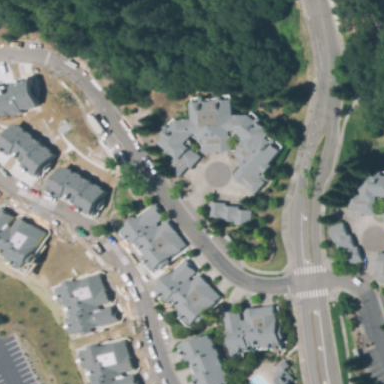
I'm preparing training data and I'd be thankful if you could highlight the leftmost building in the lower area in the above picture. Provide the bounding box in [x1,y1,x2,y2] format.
[0,209,49,270]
